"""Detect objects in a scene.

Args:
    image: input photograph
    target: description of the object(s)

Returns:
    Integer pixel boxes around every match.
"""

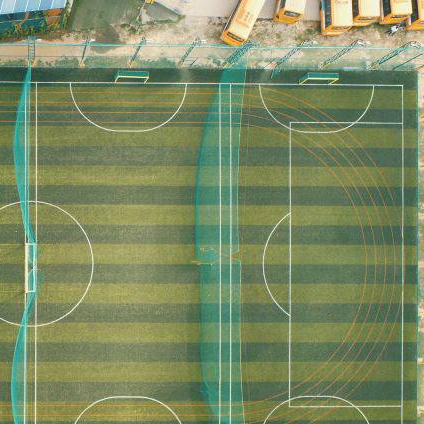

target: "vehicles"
[350,0,380,27]
[380,0,413,24]
[321,0,353,37]
[276,0,307,25]
[220,0,264,50]
[406,0,424,31]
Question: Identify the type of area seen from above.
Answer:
sports ground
